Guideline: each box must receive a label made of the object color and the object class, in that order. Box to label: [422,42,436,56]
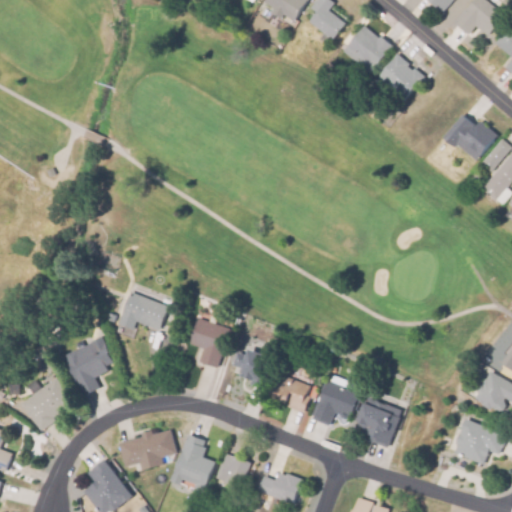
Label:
white vehicle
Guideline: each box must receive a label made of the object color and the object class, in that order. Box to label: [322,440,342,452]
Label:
white vehicle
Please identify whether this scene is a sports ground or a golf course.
golf course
